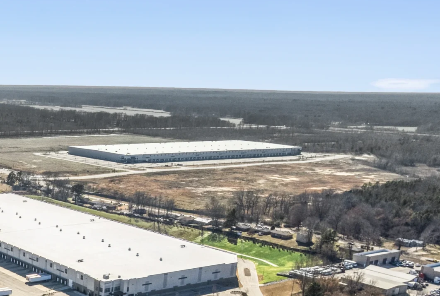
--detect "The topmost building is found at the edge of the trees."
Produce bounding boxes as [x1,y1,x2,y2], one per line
[63,140,305,164]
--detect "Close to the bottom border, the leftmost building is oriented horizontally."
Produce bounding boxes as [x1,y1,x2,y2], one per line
[0,195,246,296]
